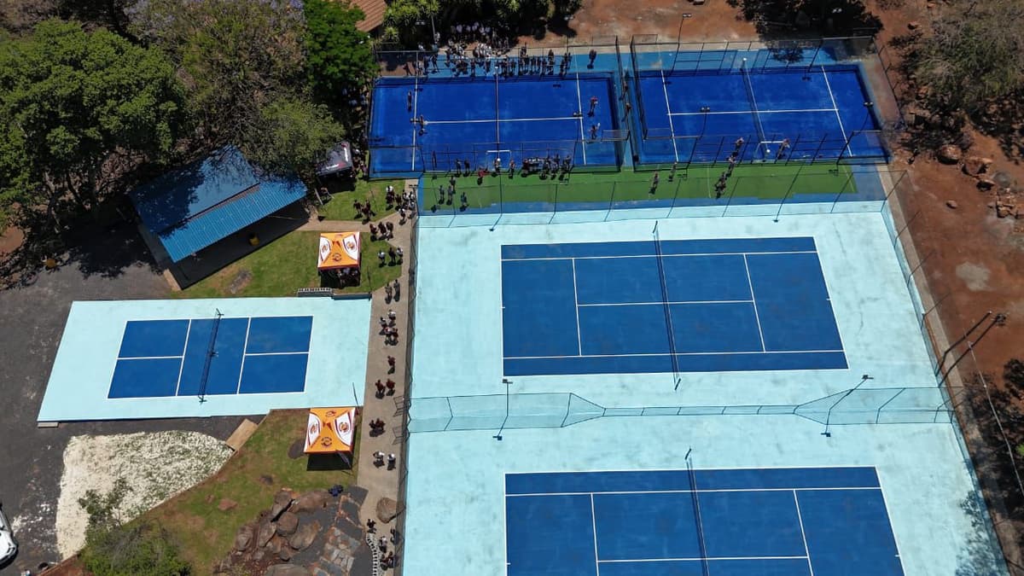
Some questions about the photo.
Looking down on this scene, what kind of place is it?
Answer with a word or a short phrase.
sports ground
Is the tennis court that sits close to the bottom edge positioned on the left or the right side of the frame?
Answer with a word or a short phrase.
right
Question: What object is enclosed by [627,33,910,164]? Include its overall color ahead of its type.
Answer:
blue sports court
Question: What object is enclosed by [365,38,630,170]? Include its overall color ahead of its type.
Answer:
blue sports court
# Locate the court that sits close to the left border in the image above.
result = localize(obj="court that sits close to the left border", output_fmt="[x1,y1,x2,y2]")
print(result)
[32,296,370,427]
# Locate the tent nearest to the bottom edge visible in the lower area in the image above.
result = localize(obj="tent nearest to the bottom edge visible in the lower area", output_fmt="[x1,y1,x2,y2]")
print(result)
[304,408,361,464]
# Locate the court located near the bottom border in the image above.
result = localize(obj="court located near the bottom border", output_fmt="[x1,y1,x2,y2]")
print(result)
[401,406,1010,576]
